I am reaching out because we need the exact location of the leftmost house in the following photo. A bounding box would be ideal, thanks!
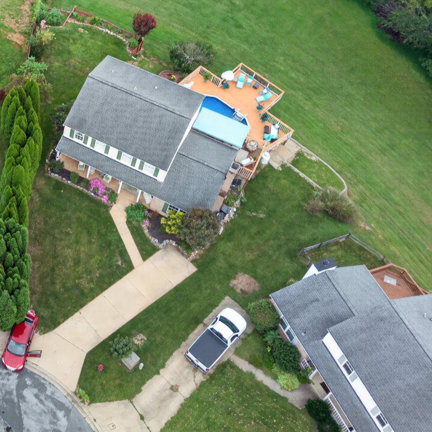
[55,55,239,231]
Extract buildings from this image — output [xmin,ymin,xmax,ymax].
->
[272,252,432,432]
[55,55,239,231]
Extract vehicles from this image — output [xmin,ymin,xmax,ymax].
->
[182,307,247,375]
[4,307,46,376]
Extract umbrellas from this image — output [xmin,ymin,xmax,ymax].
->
[220,73,236,92]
